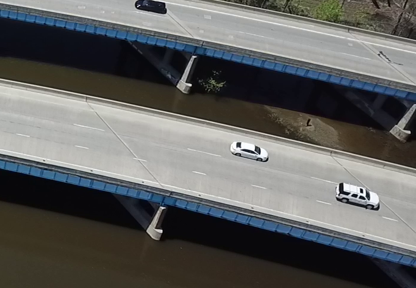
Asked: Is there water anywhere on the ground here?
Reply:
Yes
